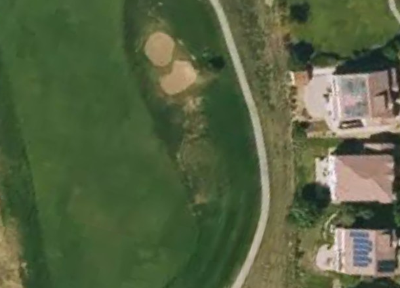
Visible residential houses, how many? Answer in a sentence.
My tally gives 3 residential houses in this view.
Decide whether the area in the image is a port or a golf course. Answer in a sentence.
This image shows a golf course.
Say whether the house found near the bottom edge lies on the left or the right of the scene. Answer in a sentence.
You can find the house found near the bottom edge on the right side of the picture.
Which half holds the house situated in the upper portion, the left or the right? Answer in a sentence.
It is on the right.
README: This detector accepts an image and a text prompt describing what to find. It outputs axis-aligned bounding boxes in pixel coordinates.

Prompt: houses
[328,156,392,202]
[327,72,397,122]
[332,229,394,276]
